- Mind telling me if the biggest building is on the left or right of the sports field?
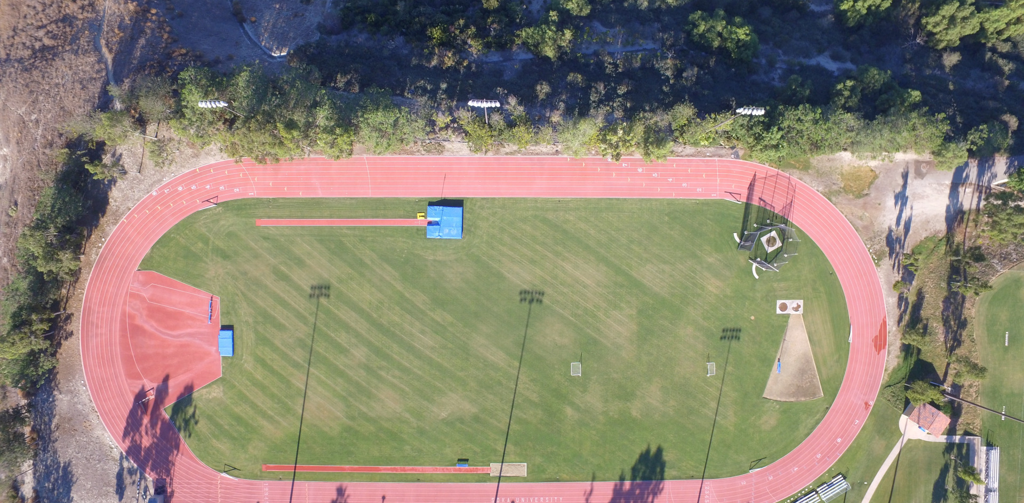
to the left of it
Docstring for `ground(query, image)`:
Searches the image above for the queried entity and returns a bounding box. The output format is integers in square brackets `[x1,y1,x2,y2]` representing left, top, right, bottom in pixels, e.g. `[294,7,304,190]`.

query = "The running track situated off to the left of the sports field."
[80,156,888,503]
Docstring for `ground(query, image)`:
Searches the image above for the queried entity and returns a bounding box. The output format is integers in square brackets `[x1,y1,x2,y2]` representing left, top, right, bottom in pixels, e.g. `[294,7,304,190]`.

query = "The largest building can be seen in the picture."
[908,402,951,438]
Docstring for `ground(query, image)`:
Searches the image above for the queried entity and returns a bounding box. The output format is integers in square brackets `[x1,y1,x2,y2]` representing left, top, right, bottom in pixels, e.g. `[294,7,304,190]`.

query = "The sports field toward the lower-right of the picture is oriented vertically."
[976,269,1024,503]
